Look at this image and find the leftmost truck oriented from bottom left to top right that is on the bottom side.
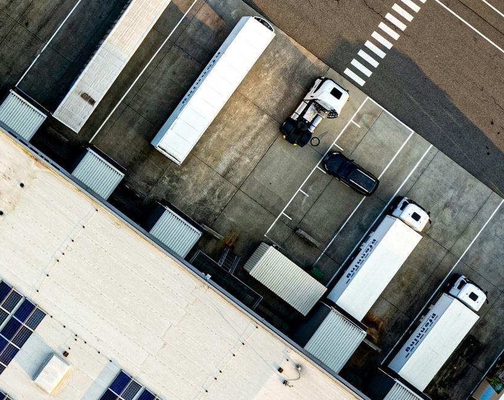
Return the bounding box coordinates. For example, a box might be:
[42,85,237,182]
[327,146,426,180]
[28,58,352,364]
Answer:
[327,193,437,321]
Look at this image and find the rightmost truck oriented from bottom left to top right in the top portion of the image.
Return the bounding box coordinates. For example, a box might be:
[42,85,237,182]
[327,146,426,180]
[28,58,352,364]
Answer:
[278,72,353,149]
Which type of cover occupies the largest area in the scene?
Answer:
paved ground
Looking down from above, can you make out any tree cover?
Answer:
No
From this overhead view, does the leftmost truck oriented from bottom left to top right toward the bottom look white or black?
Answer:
white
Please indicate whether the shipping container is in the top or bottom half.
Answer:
bottom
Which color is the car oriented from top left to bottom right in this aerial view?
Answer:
black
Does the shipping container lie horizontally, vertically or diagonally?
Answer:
diagonally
